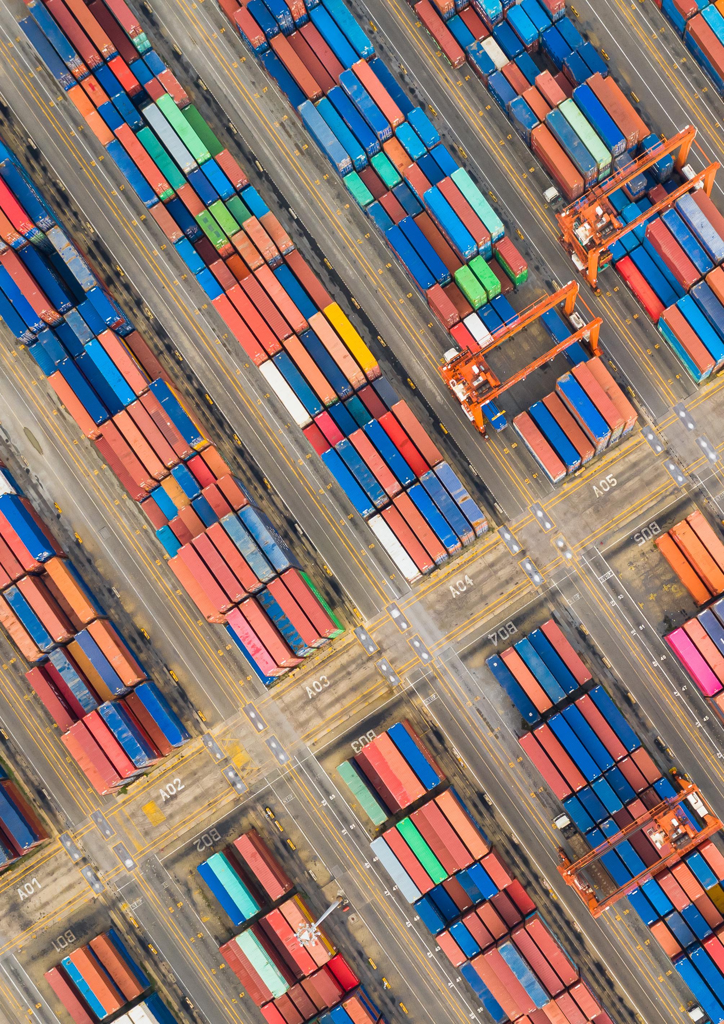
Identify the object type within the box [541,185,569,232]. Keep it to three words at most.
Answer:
truck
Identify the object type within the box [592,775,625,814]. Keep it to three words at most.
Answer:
shipping container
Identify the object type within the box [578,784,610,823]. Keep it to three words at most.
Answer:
shipping container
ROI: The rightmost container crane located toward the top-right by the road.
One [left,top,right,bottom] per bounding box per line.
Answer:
[562,116,724,302]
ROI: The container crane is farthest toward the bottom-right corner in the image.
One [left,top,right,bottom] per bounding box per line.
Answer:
[556,767,724,923]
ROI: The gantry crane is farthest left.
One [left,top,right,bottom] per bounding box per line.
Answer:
[441,274,607,445]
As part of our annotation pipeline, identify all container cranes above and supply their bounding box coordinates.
[562,116,724,302]
[556,767,724,923]
[441,274,607,445]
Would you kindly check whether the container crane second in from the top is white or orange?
orange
